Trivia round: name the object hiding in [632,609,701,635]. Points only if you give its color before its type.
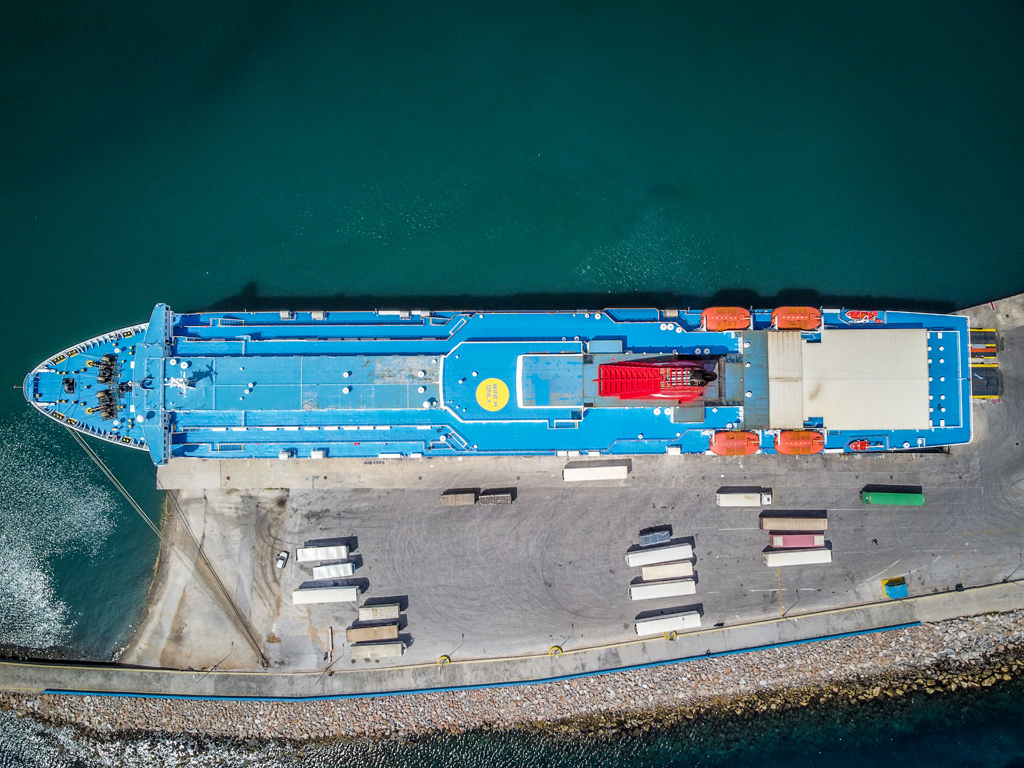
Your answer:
white trailer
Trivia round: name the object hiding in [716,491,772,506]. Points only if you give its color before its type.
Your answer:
white vehicle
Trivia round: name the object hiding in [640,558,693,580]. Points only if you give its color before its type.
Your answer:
white trailer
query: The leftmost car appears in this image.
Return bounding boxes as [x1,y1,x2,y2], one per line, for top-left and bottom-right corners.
[276,551,288,569]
